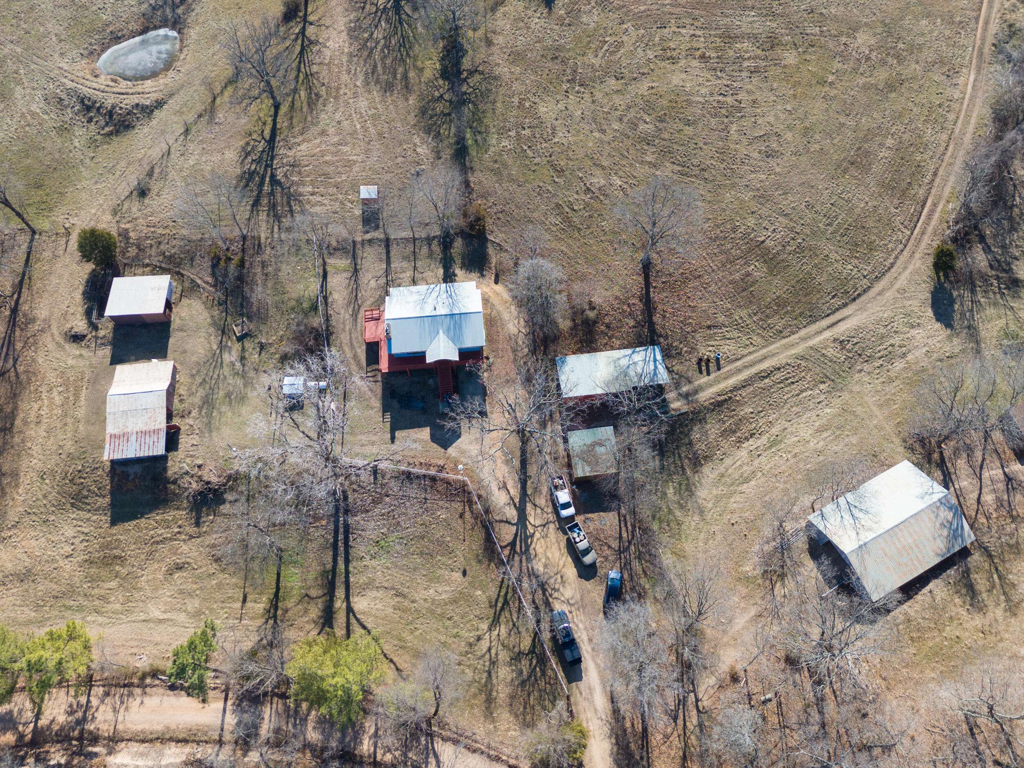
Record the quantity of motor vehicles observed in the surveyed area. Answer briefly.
4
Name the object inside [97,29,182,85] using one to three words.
pond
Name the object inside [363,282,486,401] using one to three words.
house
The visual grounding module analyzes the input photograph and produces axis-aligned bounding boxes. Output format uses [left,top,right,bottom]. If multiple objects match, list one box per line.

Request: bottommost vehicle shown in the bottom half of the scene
[555,610,585,665]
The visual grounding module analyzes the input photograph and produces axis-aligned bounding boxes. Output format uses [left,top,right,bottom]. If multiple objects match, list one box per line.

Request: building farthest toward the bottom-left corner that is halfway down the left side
[104,361,188,463]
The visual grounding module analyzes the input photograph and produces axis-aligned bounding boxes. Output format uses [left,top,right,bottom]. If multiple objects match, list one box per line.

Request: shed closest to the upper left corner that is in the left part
[105,275,175,323]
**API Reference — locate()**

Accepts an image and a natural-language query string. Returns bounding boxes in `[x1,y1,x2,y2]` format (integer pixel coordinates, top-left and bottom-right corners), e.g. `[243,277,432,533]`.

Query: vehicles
[565,522,596,568]
[555,610,585,665]
[549,474,576,520]
[599,570,621,612]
